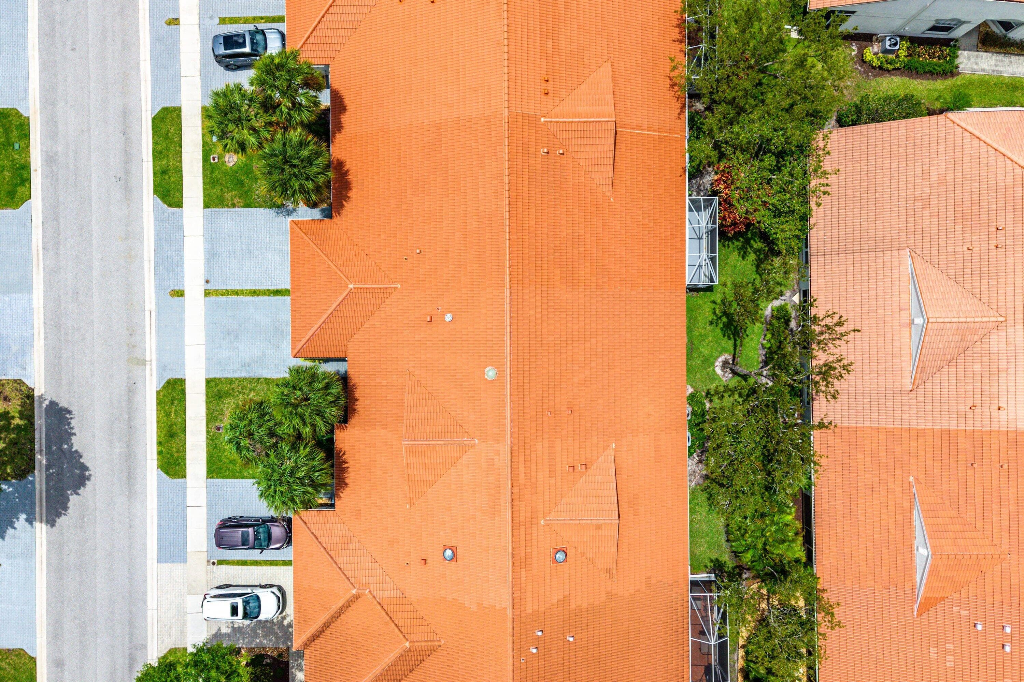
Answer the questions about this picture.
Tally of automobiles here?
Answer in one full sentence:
In total, there are 3 automobiles in the scene.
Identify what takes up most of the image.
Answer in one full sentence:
The largest share of the image is taken up by buildings.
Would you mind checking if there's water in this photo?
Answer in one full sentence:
No, there's no water in this view.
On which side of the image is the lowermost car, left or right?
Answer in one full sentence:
The lowermost car is on the left side of the image.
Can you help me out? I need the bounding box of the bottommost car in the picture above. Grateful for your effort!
[200,586,284,630]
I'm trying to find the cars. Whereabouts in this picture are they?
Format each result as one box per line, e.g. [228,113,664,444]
[206,22,281,70]
[200,586,284,630]
[213,518,294,560]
